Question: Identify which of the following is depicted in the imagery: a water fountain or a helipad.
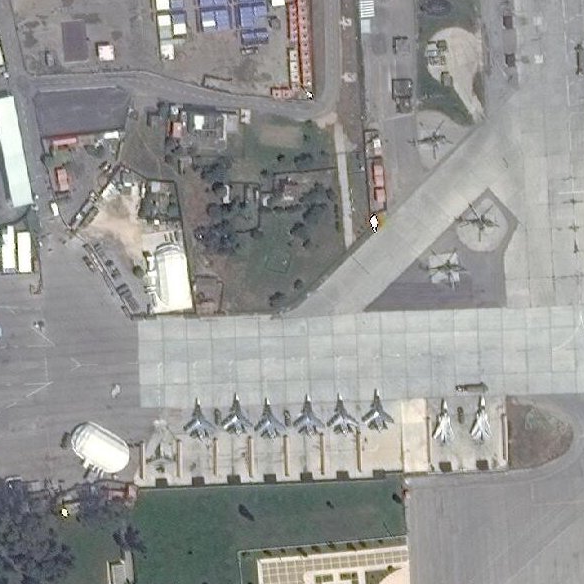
helipad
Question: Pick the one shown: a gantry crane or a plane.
plane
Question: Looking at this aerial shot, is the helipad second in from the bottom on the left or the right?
right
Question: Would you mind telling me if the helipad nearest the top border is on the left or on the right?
right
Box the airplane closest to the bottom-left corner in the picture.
[145,419,176,461]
